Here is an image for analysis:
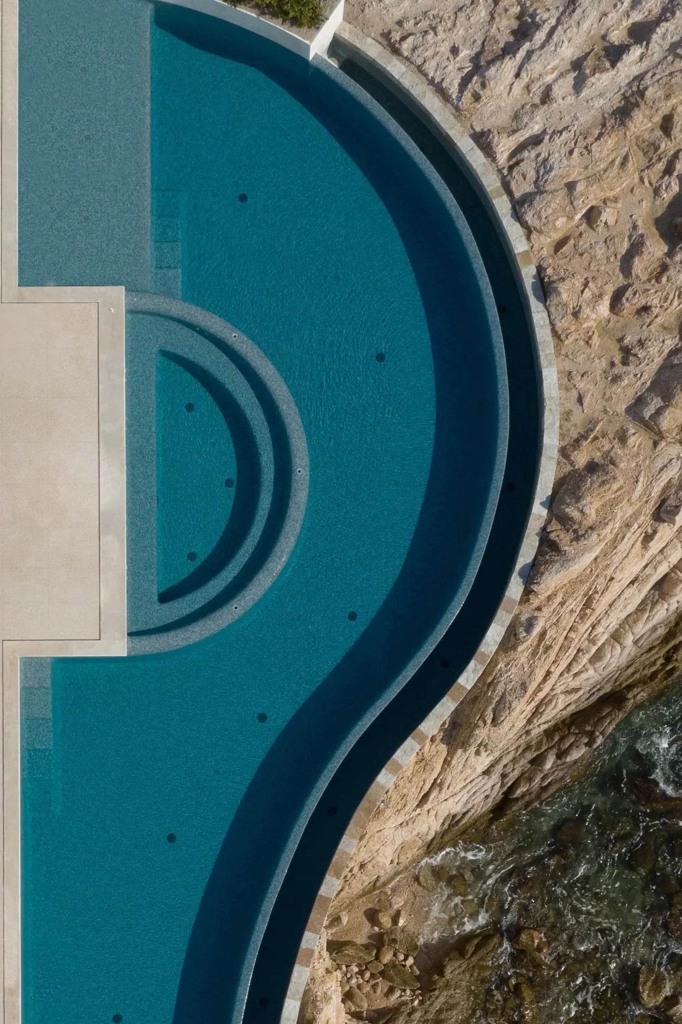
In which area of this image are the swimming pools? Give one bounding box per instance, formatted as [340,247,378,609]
[2,0,509,1024]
